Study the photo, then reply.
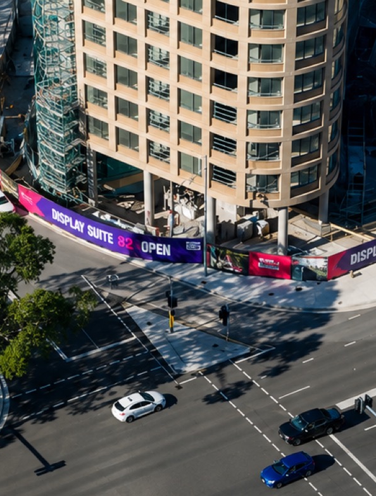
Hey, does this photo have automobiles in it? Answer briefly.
Yes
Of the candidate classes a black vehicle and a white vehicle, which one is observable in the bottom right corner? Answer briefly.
black vehicle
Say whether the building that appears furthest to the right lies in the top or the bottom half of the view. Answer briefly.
top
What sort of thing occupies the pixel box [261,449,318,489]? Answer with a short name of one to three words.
car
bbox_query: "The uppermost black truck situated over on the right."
[279,402,349,447]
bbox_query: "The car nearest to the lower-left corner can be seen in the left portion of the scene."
[110,389,170,424]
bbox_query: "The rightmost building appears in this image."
[72,0,357,255]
